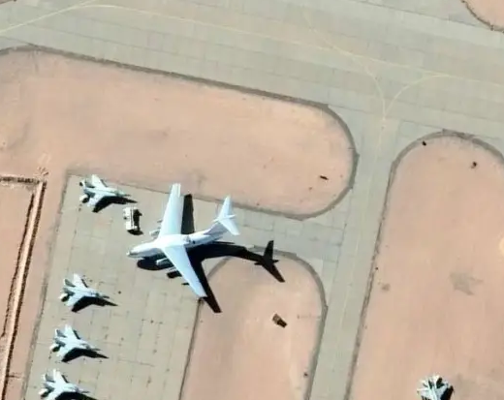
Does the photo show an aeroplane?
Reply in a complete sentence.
Yes, the photo shows an aeroplane.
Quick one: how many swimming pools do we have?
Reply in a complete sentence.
There are no swimming pools in this view.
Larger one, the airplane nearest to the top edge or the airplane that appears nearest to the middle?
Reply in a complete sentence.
The airplane nearest to the top edge is smaller than the airplane that appears nearest to the middle.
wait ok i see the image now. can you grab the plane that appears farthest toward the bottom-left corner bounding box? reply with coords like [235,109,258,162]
[40,367,87,400]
